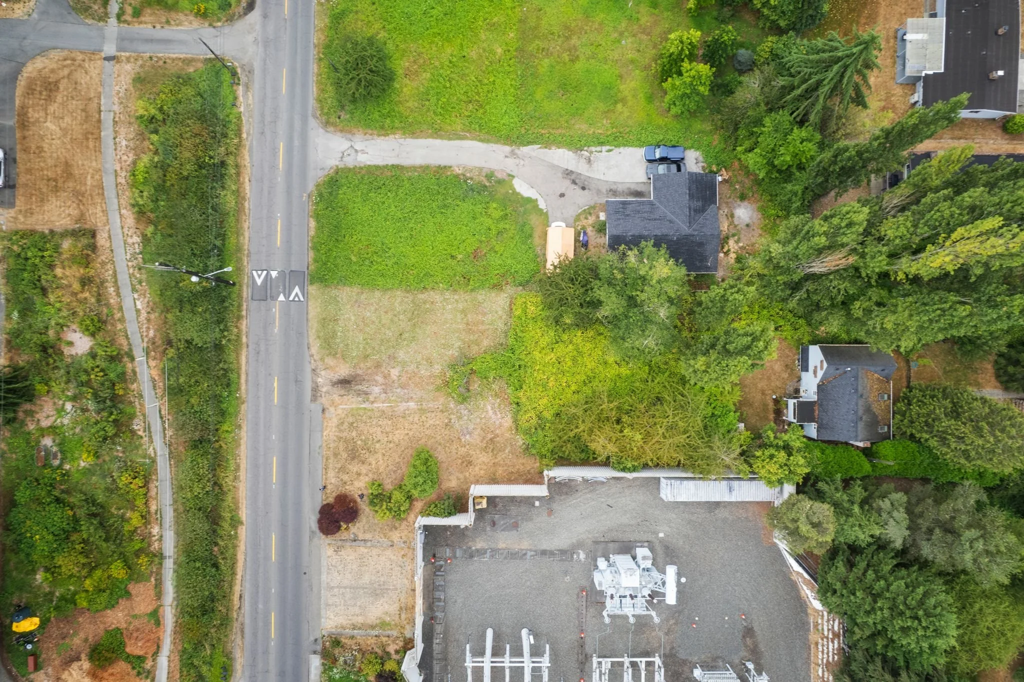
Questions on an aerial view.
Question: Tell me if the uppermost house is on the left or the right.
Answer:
right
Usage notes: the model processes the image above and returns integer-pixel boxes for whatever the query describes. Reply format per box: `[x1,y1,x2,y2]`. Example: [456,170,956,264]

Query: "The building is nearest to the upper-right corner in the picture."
[895,0,1021,117]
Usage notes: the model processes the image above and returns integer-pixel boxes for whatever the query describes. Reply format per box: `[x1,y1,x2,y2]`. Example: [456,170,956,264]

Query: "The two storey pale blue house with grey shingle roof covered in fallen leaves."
[782,344,897,448]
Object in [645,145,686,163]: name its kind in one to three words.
vehicle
